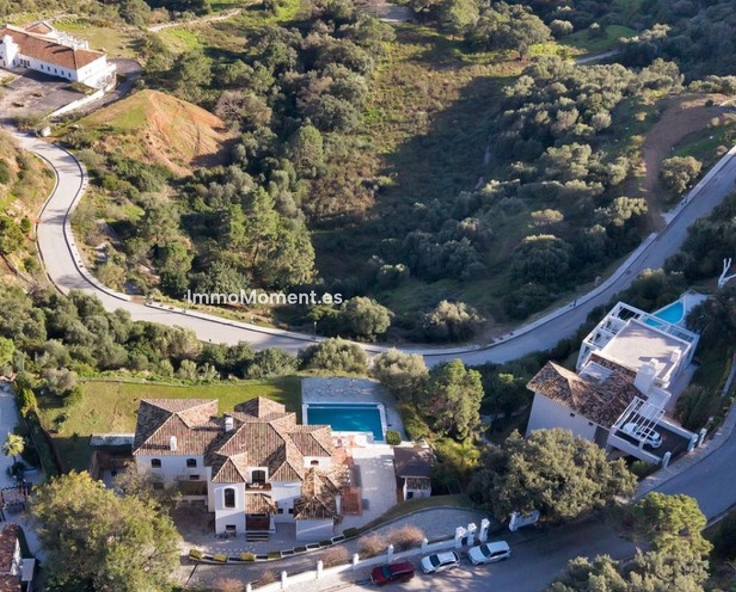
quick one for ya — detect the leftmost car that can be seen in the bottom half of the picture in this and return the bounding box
[371,555,418,583]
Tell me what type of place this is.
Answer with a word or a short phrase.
residential area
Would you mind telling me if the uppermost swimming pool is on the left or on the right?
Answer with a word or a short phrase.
right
